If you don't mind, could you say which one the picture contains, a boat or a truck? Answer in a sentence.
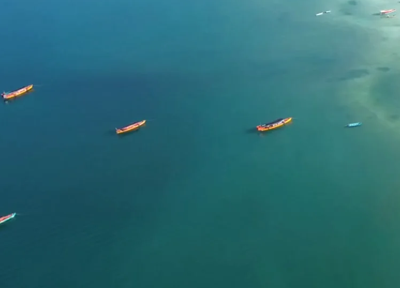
Visible in the photo is a boat.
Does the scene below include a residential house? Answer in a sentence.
No, there's no residential house here.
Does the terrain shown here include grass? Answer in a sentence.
No, the scene doesn't show any grass.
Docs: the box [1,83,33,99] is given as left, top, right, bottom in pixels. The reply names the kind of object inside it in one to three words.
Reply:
boat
